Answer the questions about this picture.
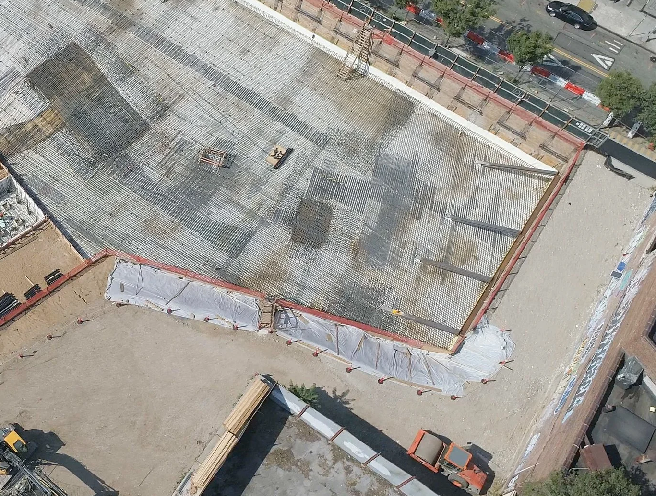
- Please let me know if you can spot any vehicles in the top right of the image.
Yes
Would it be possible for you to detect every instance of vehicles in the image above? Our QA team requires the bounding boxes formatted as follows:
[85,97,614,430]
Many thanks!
[415,436,493,496]
[0,420,67,496]
[549,6,597,36]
